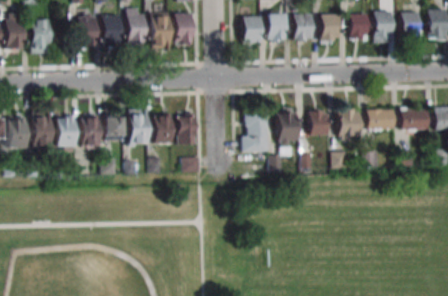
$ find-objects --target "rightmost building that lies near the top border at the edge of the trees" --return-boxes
[424,10,448,42]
